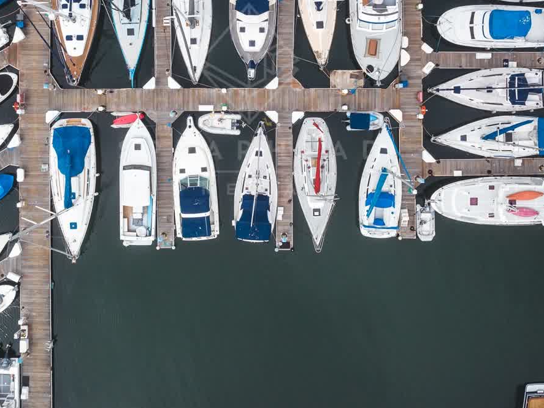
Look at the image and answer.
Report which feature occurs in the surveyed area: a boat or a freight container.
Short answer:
boat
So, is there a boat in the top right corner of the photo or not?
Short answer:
Yes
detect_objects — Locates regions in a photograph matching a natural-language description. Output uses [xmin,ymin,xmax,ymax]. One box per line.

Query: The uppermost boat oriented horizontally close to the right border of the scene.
[434,4,544,48]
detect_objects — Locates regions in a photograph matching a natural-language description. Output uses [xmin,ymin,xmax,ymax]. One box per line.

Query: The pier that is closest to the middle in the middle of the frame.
[276,111,293,250]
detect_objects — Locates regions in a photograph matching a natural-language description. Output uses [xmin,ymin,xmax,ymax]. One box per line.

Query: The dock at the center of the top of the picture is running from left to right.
[49,72,400,125]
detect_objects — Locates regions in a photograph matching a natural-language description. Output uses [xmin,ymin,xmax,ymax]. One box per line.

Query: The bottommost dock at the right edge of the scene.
[422,158,544,176]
